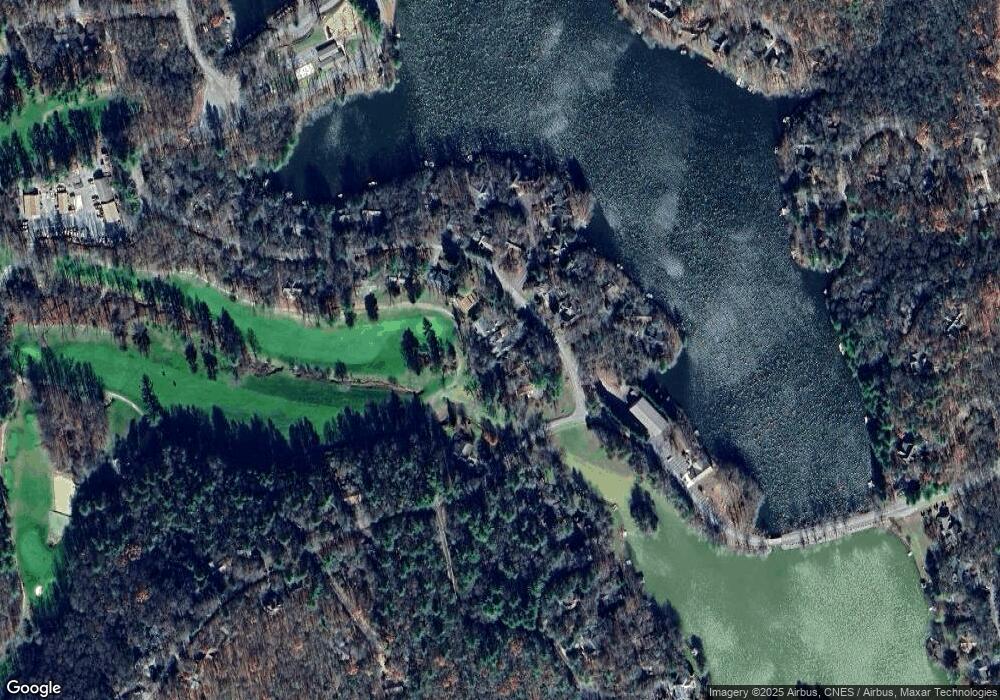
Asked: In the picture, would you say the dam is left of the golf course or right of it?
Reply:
on the right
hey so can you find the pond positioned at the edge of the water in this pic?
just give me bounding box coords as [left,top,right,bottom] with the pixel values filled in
[562,446,957,700]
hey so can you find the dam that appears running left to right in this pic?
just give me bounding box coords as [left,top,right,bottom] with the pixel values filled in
[739,507,893,556]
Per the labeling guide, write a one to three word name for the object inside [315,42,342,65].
building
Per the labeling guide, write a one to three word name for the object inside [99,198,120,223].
shed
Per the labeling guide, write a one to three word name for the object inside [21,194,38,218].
shed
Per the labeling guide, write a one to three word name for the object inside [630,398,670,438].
building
